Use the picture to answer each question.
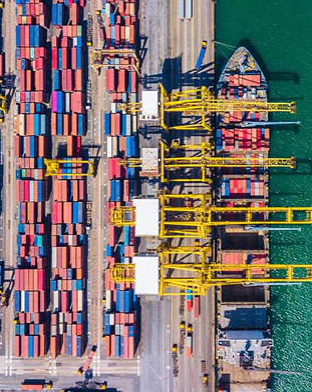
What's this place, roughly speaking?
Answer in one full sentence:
This image shows a port.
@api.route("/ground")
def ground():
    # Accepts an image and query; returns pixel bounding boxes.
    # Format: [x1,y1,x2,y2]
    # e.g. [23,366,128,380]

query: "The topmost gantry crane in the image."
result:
[92,49,139,76]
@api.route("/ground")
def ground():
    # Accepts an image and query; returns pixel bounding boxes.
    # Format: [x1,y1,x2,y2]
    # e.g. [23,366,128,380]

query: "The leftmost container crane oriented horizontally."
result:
[46,159,95,178]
